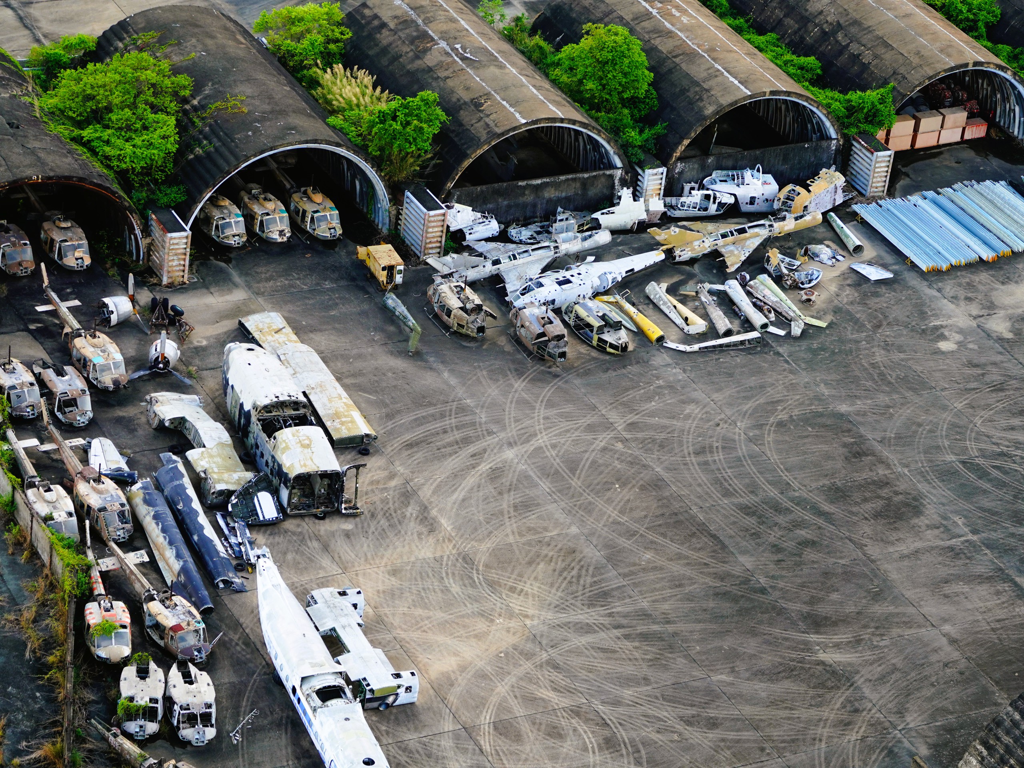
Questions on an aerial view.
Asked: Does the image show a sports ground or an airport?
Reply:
airport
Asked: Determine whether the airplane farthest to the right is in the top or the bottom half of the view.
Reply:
top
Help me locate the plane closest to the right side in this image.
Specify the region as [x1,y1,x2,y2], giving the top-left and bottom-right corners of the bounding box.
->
[656,210,825,279]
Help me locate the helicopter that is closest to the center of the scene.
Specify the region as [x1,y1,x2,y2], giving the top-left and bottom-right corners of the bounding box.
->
[493,298,570,367]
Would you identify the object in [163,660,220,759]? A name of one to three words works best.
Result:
helicopter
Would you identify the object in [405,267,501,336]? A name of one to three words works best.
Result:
helicopter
